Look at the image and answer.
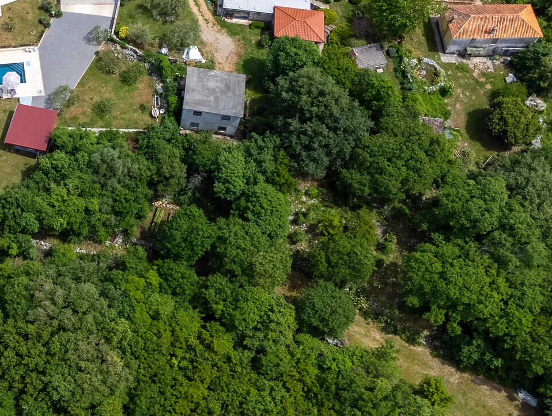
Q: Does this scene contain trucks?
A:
No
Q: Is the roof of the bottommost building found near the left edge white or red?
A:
red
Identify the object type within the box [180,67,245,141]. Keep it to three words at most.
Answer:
house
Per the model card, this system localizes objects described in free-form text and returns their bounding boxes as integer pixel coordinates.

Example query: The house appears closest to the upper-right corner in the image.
[430,3,544,65]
